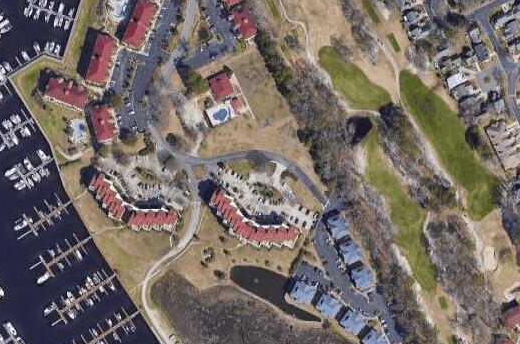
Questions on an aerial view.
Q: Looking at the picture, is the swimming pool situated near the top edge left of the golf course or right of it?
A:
to the left of it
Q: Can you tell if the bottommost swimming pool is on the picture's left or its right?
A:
left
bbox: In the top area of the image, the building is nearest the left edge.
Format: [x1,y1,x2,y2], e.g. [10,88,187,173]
[43,78,92,112]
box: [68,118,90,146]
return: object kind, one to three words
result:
swimming pool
